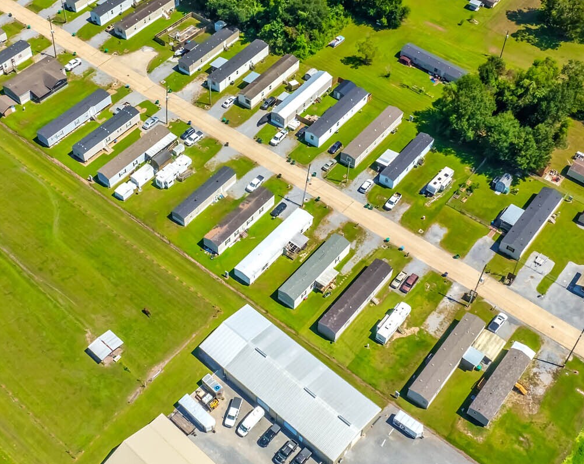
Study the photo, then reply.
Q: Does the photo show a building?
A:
Yes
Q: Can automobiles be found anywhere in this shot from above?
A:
Yes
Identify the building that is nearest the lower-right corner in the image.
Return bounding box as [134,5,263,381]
[463,337,538,428]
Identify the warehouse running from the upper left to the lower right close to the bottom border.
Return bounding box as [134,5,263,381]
[196,307,381,464]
